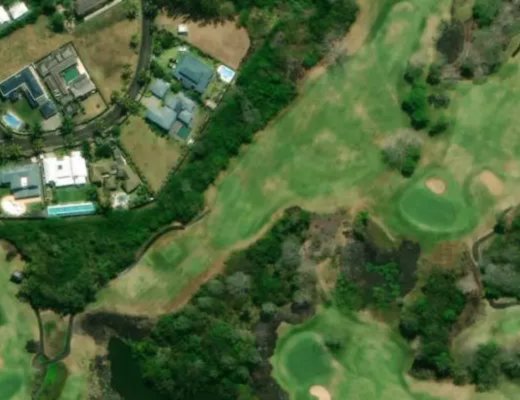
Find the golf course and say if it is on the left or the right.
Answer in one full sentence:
The golf course is on the right side of the image.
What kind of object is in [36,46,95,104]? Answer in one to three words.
house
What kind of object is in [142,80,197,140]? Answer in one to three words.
house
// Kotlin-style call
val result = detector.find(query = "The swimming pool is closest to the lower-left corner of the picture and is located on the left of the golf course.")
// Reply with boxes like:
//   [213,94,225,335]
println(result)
[48,201,95,216]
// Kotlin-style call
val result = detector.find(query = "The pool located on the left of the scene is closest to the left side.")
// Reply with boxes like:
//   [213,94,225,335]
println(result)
[2,112,24,130]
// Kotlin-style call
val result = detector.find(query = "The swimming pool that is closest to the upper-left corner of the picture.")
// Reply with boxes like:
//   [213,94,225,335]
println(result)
[61,67,80,84]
